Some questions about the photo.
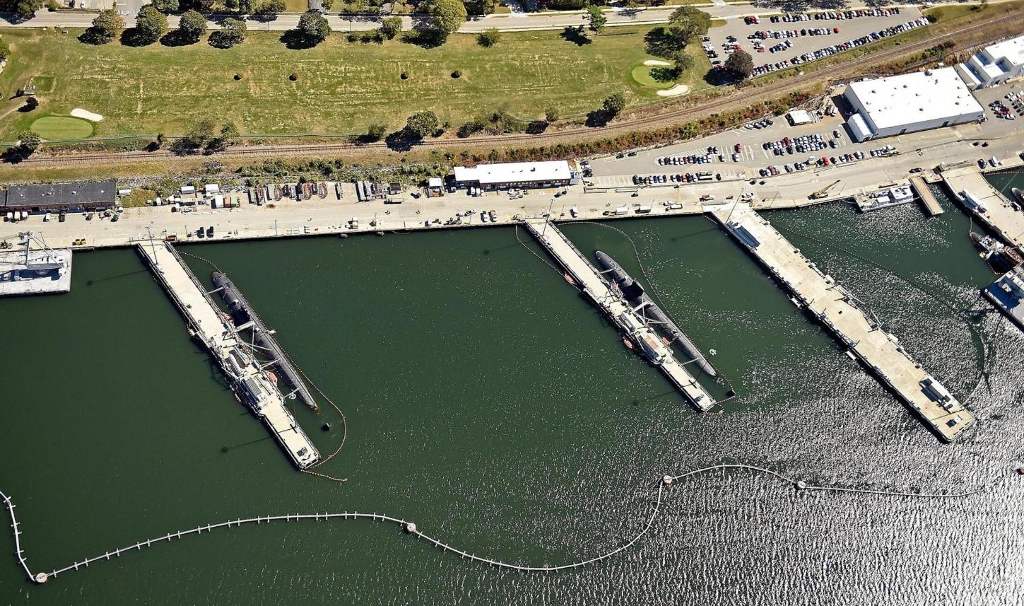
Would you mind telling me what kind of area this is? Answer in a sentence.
This image shows a port.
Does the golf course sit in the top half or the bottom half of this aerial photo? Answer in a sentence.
The golf course is in the top half of the image.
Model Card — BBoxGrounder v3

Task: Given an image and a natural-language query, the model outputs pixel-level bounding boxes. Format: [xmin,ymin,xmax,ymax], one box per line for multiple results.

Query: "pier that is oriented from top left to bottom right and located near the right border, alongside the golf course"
[711,210,974,442]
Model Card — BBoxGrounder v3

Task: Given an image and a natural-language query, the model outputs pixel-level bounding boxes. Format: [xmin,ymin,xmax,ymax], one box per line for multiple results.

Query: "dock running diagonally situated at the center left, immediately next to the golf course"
[136,242,320,472]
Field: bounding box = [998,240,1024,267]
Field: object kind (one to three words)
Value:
boat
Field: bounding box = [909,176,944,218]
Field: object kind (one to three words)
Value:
pier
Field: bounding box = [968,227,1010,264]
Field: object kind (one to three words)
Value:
boat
